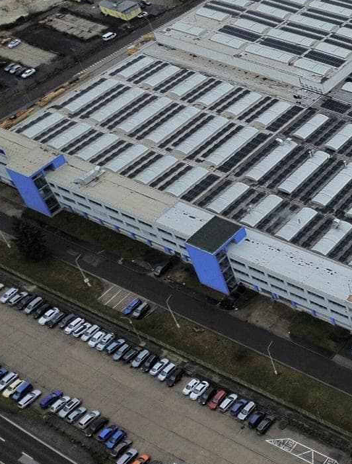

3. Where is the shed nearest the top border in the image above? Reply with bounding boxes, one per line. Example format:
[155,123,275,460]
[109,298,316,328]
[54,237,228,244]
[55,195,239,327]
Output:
[96,0,138,21]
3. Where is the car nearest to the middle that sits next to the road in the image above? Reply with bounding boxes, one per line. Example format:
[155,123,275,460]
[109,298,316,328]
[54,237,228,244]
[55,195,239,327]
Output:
[153,259,170,276]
